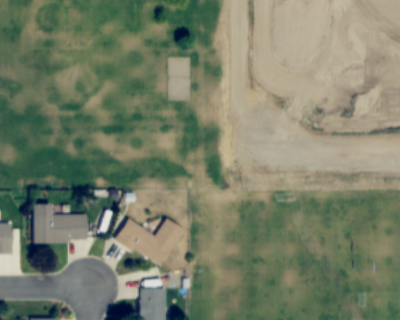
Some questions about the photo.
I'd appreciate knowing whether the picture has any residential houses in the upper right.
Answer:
No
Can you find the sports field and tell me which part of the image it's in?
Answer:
bottom right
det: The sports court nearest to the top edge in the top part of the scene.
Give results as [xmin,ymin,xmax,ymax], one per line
[168,58,190,78]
